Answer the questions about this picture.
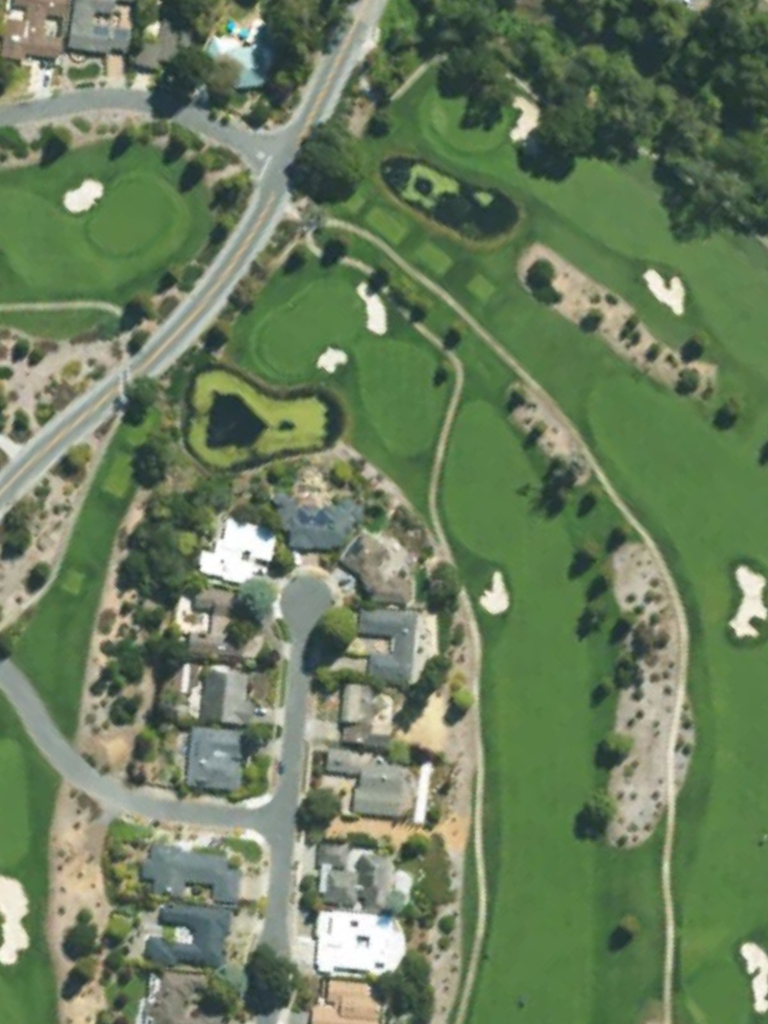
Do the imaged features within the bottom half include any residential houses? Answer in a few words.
Yes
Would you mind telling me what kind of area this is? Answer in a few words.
golf course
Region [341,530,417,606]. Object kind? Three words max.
house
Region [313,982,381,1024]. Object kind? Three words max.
house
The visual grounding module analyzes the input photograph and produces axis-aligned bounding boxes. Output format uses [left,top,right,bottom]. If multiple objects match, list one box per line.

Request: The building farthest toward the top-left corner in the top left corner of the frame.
[1,0,69,61]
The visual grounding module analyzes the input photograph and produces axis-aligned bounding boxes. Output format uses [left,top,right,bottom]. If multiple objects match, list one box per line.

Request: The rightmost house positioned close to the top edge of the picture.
[207,33,267,88]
